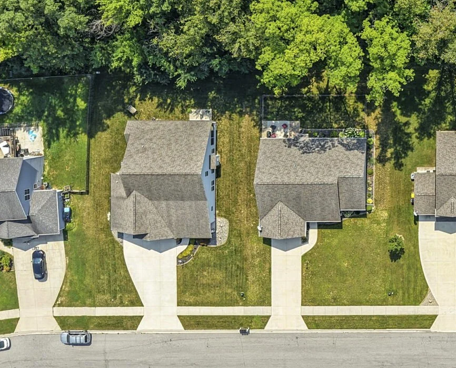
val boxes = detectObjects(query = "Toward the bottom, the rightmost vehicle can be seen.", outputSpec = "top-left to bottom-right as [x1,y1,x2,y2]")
[62,331,93,347]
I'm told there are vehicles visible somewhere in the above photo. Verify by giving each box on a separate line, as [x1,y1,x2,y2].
[0,336,14,350]
[31,251,48,280]
[62,331,93,347]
